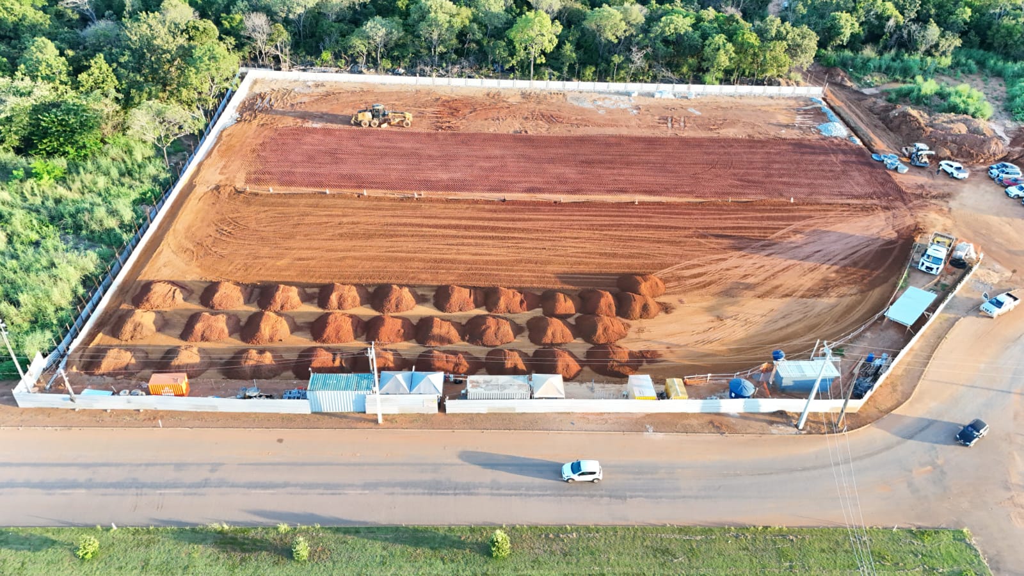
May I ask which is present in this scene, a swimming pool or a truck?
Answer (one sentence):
Visible in the photo is a truck.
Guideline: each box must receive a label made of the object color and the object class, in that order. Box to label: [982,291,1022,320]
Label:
white truck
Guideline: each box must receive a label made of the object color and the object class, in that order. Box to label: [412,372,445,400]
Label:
white tent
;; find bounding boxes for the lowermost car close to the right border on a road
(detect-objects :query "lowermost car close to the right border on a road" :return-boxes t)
[956,420,993,449]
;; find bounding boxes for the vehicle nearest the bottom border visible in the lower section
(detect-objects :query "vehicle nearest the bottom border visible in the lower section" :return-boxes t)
[561,463,602,485]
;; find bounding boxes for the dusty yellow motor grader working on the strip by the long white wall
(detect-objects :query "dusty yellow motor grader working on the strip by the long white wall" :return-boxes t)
[348,102,414,129]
